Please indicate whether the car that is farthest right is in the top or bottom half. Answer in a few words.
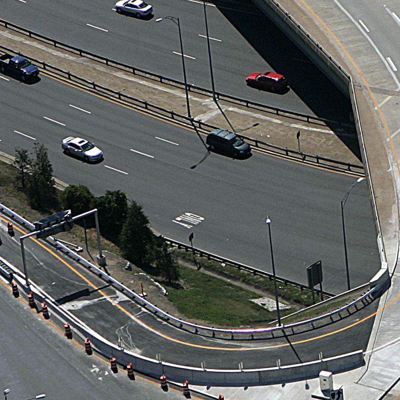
top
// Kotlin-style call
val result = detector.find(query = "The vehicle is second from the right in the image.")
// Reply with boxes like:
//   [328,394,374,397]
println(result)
[201,123,255,156]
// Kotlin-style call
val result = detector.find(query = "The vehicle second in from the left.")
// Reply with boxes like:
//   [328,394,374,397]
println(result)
[59,135,106,162]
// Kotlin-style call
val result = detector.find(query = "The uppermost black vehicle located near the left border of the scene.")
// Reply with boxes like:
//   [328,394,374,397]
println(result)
[0,52,44,82]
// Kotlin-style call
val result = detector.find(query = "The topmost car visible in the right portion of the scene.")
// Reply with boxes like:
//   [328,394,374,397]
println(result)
[242,69,292,92]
